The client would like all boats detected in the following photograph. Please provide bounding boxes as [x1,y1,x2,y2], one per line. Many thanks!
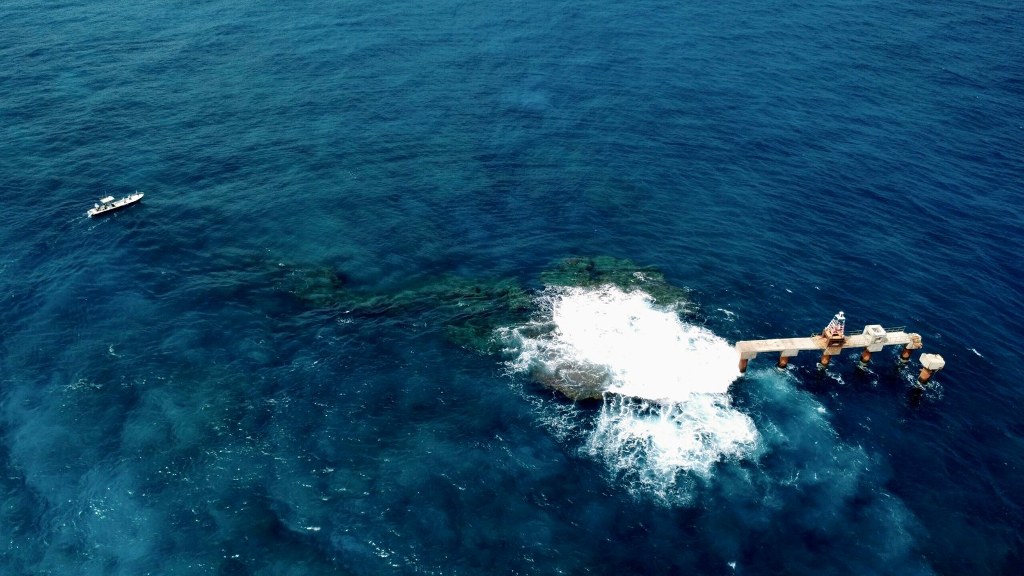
[83,189,143,217]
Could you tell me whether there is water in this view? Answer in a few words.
Yes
